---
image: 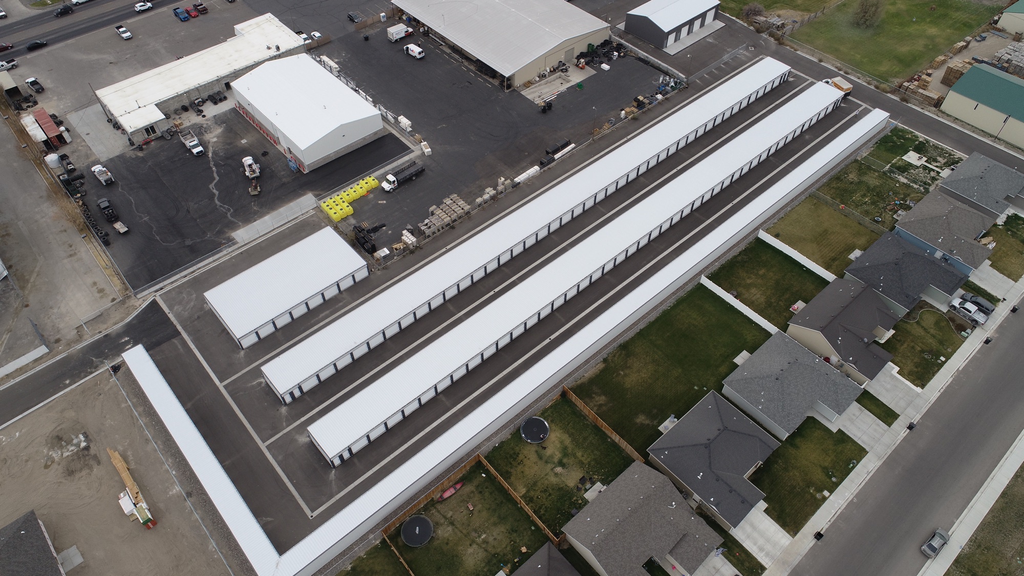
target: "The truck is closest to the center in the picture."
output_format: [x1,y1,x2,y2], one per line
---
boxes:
[381,162,430,194]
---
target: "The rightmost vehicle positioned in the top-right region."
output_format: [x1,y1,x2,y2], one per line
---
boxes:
[819,73,855,98]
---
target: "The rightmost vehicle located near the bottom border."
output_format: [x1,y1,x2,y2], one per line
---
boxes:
[918,526,950,561]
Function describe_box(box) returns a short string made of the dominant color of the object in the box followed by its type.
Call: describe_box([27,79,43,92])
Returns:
black vehicle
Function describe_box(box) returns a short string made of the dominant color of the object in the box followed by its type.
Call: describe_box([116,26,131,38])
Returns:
white vehicle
